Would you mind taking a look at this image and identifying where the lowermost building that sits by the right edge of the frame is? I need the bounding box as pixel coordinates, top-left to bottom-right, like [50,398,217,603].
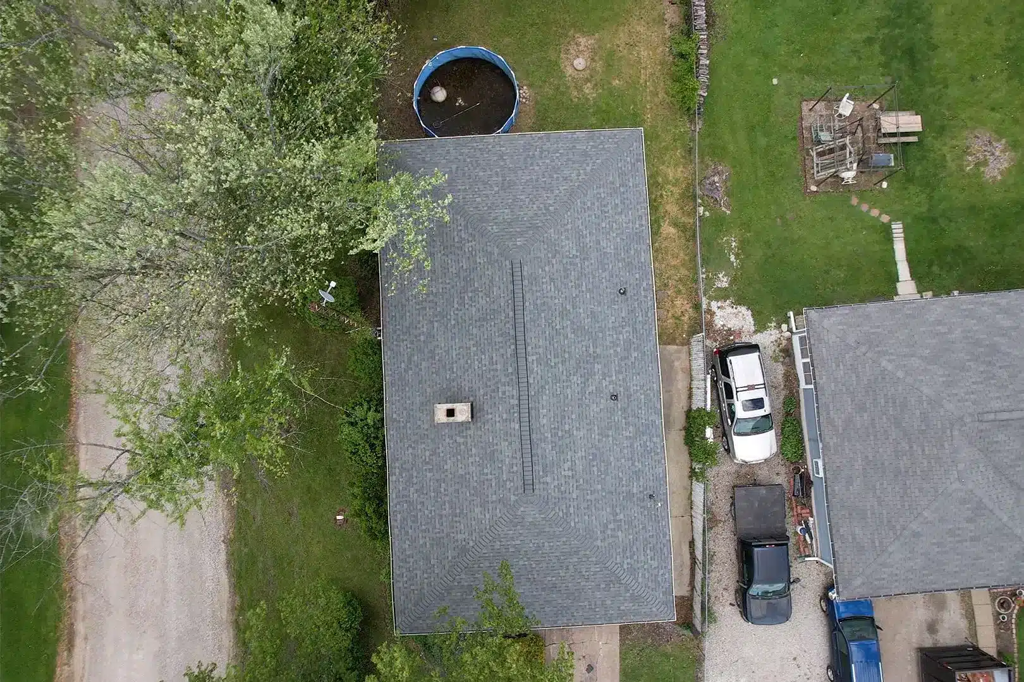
[782,288,1024,601]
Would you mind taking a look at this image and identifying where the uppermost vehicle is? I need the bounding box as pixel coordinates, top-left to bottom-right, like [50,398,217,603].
[712,346,778,469]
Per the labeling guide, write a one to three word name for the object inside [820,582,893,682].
car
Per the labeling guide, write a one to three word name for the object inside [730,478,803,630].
truck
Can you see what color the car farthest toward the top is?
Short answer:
white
